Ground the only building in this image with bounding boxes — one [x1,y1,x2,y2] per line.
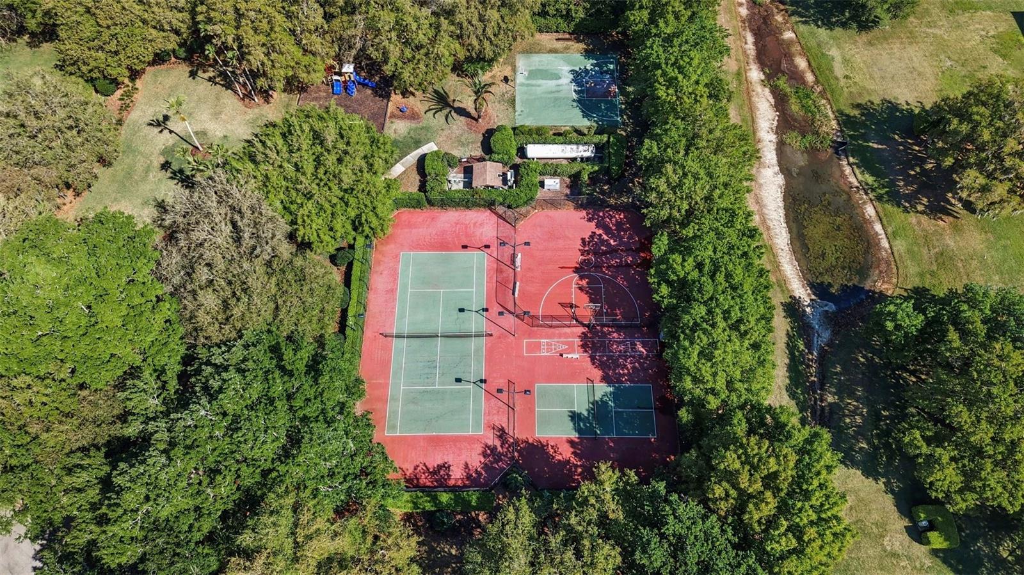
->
[474,162,501,188]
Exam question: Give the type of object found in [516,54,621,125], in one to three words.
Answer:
basketball court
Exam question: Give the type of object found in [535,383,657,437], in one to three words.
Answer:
sports court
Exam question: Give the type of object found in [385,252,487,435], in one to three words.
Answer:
tennis court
